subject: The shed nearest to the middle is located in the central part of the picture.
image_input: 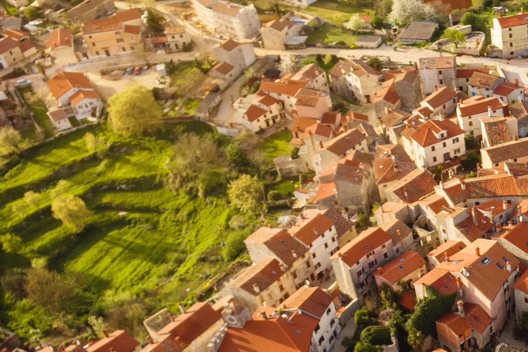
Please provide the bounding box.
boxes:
[275,152,309,180]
